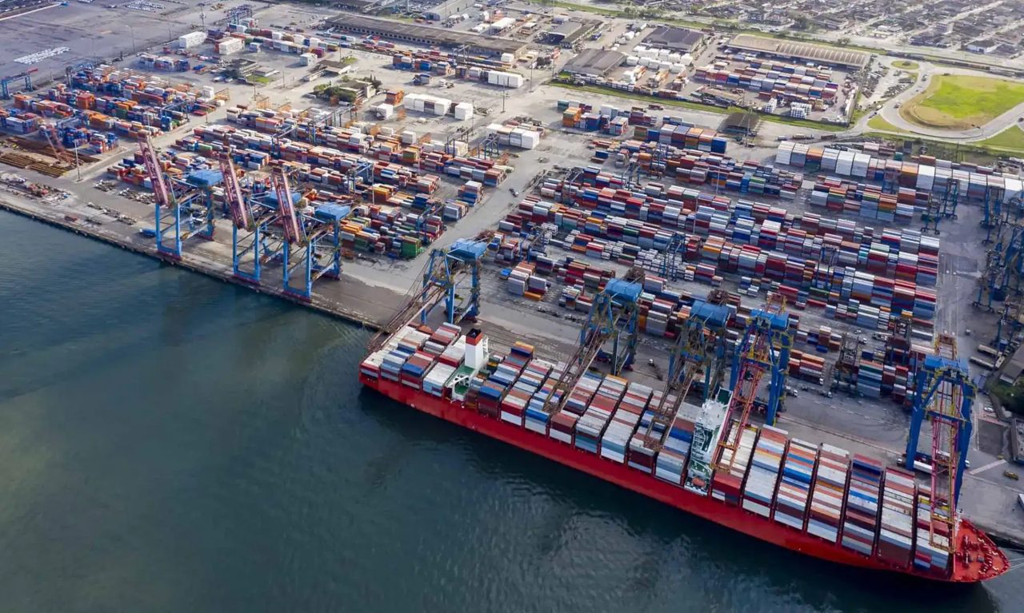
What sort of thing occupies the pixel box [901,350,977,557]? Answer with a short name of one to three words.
container crane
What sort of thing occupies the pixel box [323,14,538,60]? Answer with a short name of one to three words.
building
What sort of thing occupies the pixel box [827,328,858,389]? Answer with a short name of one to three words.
container crane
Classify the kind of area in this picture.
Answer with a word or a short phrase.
port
